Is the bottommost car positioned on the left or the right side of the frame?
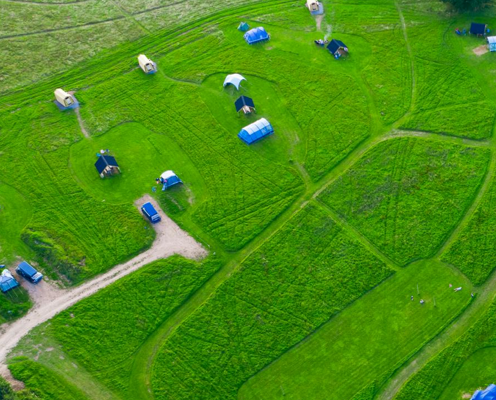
left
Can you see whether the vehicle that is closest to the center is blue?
Yes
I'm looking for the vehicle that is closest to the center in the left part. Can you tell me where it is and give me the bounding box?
[141,199,162,225]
